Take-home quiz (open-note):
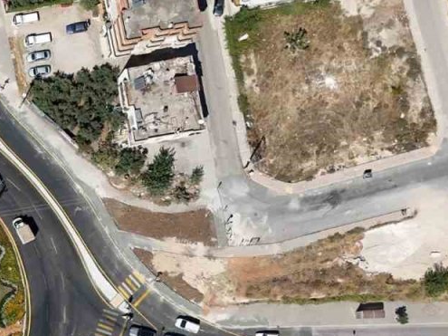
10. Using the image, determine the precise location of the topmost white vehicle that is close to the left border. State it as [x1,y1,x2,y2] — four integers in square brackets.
[14,9,40,25]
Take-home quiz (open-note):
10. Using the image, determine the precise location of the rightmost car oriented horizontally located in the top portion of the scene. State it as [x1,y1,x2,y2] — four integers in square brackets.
[66,20,91,34]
